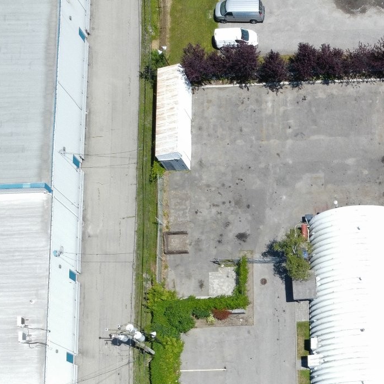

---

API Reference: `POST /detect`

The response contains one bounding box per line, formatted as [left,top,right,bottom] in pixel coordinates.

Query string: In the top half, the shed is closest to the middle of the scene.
[156,64,188,169]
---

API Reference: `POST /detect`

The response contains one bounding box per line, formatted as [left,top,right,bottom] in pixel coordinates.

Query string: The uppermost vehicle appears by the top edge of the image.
[214,0,267,23]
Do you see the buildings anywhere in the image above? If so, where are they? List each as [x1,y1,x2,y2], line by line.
[0,0,92,384]
[156,64,188,169]
[293,200,384,384]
